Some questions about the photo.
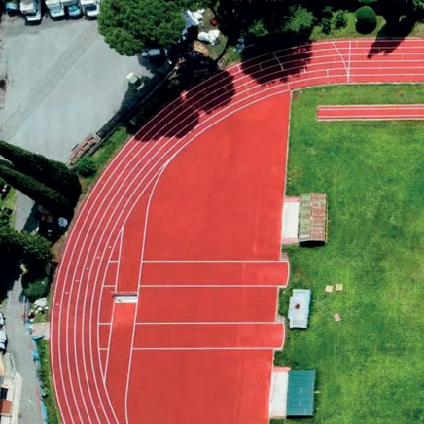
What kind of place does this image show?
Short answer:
sports ground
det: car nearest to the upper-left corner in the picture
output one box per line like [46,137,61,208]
[2,1,26,16]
